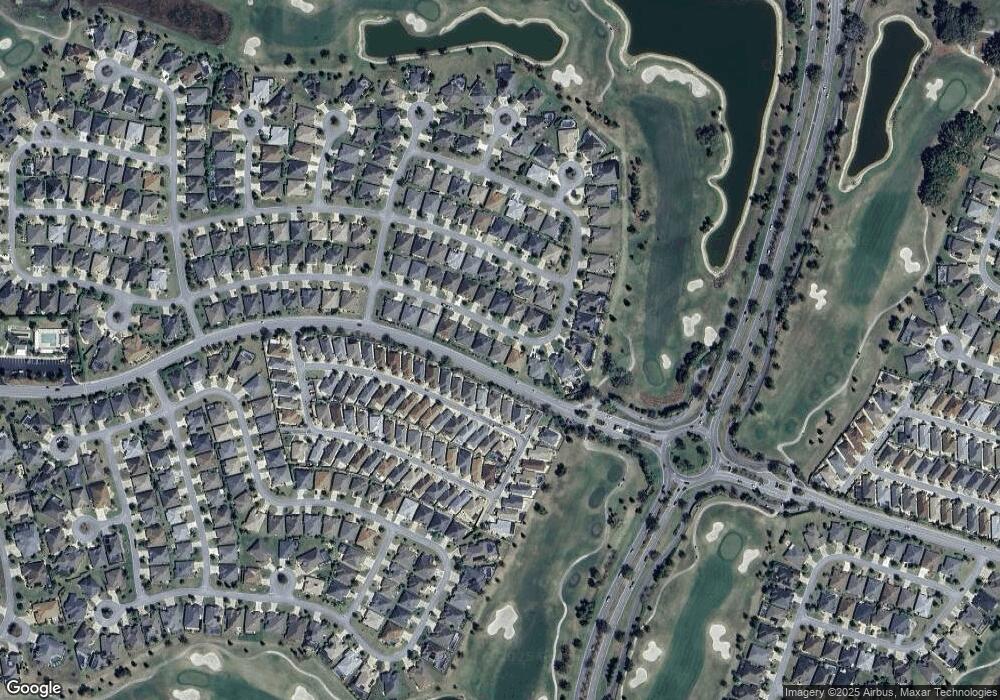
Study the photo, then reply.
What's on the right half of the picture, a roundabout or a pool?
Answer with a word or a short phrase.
roundabout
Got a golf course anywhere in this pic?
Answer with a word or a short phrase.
Yes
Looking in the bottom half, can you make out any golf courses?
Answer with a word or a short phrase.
Yes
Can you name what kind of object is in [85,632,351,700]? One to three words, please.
golf course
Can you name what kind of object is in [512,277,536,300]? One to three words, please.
house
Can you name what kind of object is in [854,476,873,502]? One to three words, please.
house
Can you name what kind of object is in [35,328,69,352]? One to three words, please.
swimming pool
